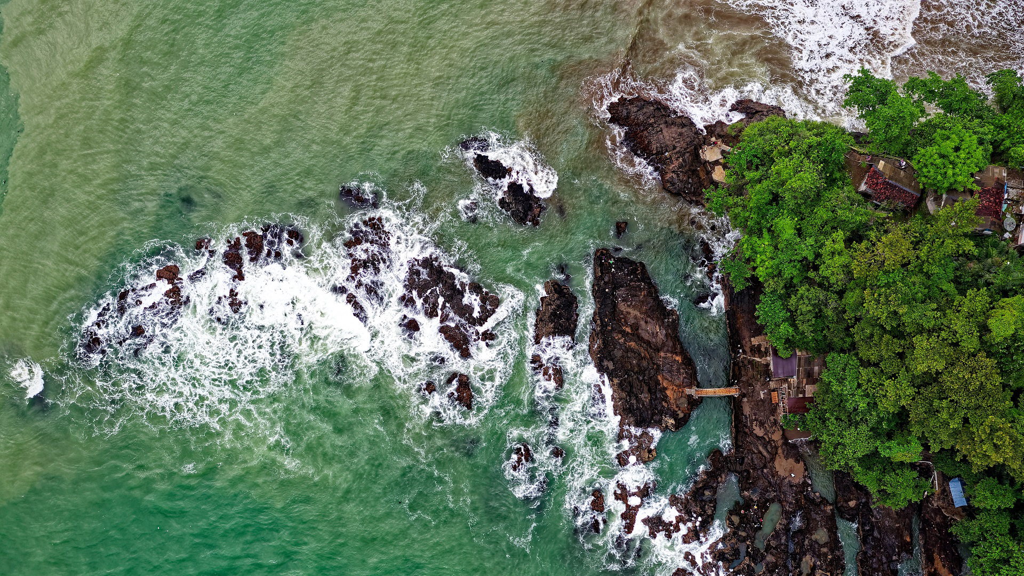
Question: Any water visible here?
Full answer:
Yes, some water is visible.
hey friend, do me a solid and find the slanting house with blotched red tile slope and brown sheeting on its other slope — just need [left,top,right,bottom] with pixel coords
[857,160,921,212]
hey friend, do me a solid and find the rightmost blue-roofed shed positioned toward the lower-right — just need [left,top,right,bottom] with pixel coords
[942,477,966,507]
